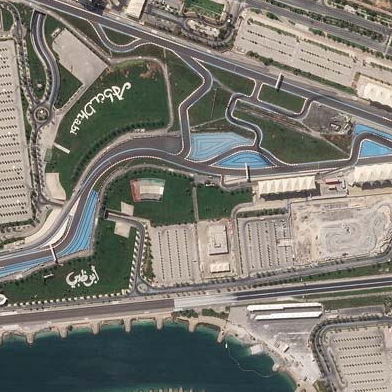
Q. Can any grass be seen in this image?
Yes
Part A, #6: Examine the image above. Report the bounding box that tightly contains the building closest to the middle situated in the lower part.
[208,224,228,255]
